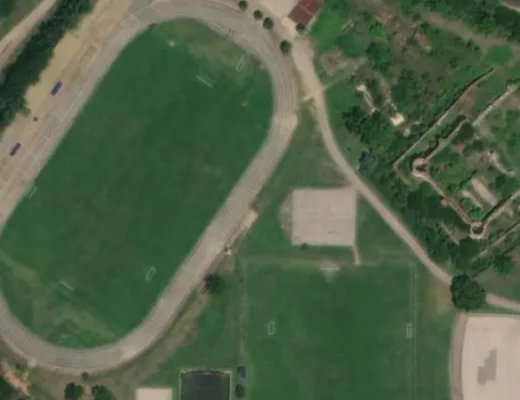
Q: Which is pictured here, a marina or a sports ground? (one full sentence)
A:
This image shows a sports ground.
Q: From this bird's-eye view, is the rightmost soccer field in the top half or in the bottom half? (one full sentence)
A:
It is in the bottom half that the rightmost soccer field appears.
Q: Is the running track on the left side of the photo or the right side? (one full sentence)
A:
The running track appears in the left half of the scene.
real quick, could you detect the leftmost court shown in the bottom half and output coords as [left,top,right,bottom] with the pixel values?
[182,372,230,400]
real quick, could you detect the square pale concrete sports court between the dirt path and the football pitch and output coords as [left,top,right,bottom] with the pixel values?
[292,188,355,246]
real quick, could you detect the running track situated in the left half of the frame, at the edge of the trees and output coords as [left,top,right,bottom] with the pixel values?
[0,0,297,373]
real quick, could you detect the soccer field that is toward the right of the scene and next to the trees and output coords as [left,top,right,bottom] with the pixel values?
[244,261,414,400]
